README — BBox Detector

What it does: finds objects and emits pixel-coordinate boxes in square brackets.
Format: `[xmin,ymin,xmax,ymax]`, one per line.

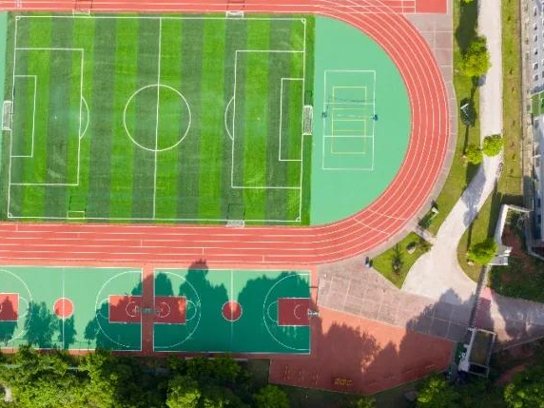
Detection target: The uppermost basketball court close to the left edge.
[0,267,142,351]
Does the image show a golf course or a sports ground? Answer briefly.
sports ground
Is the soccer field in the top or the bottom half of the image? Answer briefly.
top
